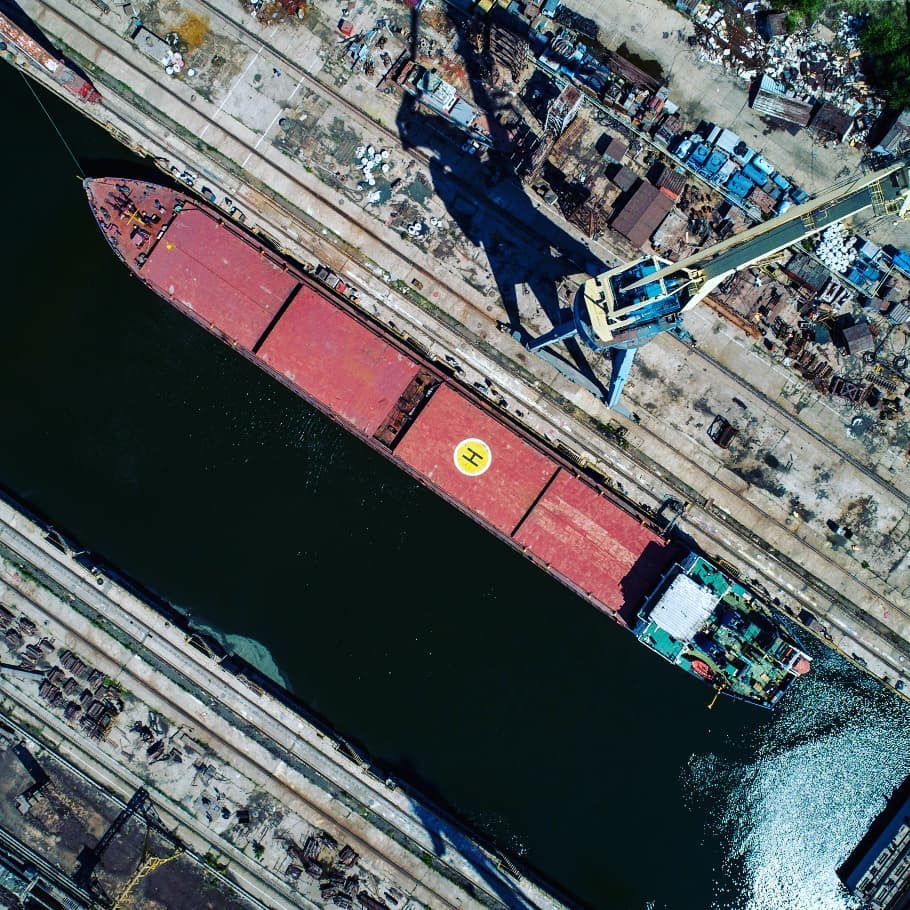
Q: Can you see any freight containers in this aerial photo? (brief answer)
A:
Yes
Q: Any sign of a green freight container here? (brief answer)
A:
No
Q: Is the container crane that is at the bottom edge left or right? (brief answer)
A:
left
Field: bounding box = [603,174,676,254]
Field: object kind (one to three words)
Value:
shed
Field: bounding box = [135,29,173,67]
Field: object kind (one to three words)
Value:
shipping container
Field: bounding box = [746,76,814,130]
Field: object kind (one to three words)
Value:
shed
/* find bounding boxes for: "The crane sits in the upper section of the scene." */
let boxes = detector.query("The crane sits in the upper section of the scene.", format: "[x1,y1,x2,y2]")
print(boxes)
[496,162,910,430]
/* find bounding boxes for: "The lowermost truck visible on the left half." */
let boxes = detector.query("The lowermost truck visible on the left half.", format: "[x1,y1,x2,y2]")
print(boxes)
[314,266,346,294]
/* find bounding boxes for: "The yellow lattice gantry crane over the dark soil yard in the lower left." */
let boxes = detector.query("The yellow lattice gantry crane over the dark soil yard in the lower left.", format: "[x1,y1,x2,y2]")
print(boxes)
[89,824,187,910]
